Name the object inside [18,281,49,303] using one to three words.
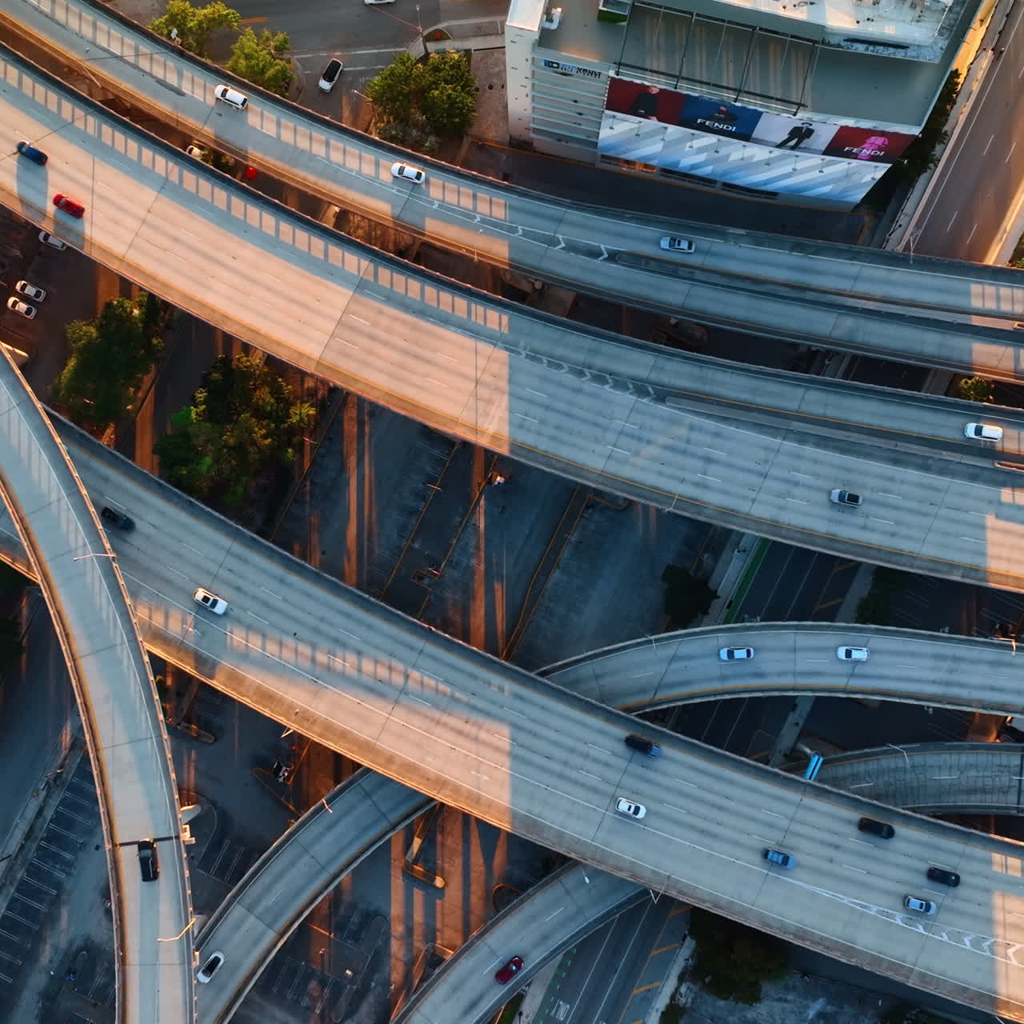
car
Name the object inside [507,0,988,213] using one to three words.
building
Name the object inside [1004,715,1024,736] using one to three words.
car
